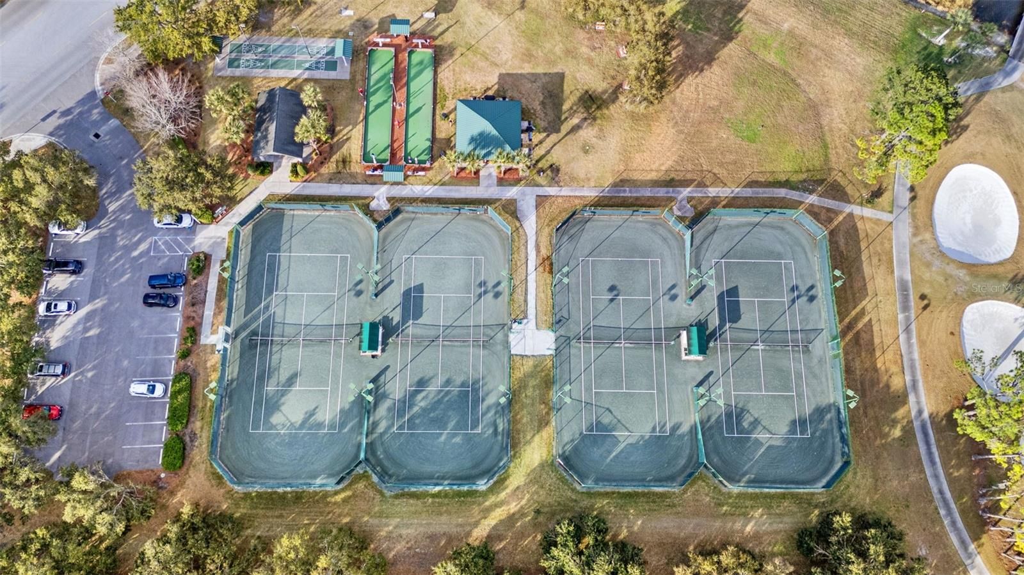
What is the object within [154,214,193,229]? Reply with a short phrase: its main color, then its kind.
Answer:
white car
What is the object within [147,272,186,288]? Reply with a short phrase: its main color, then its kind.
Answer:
blue car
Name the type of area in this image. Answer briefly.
sports ground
